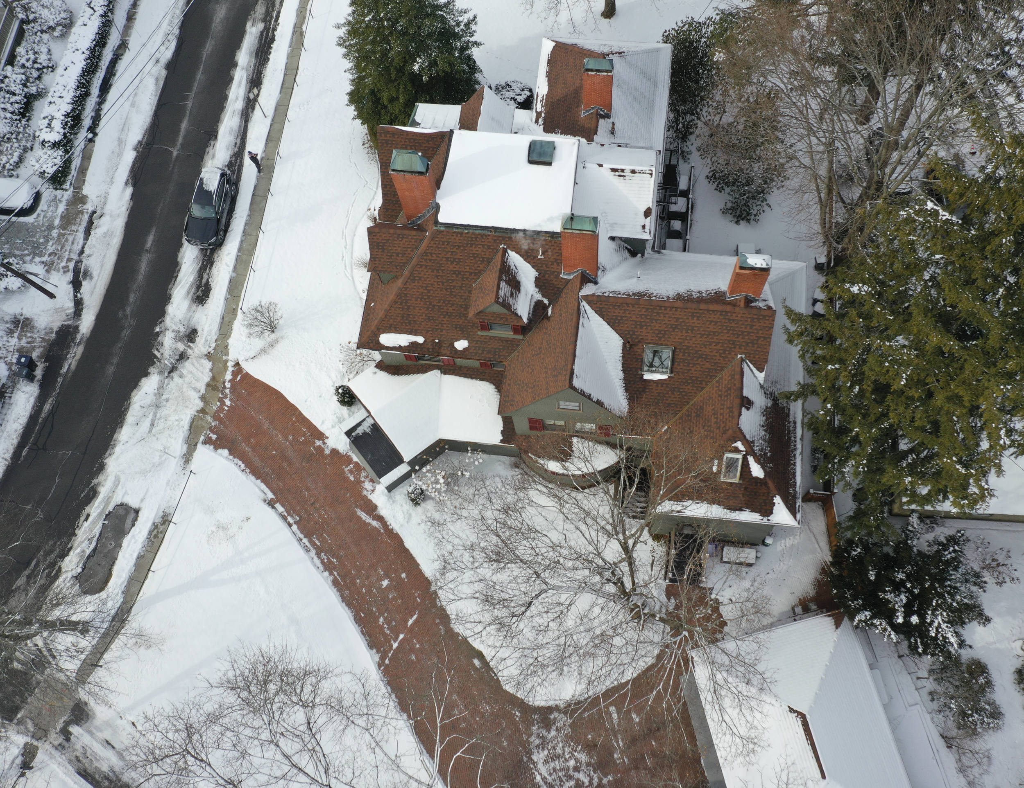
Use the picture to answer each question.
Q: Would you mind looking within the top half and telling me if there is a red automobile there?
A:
No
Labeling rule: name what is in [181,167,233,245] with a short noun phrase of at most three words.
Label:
car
